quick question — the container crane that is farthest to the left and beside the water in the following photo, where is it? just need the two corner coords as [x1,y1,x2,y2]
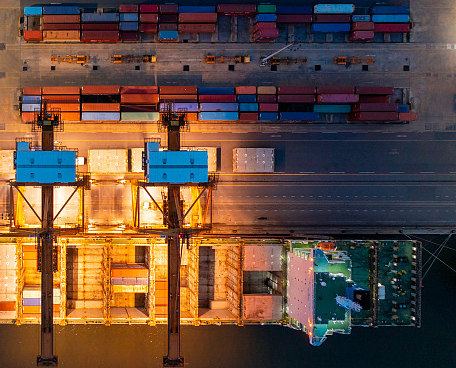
[5,98,95,367]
